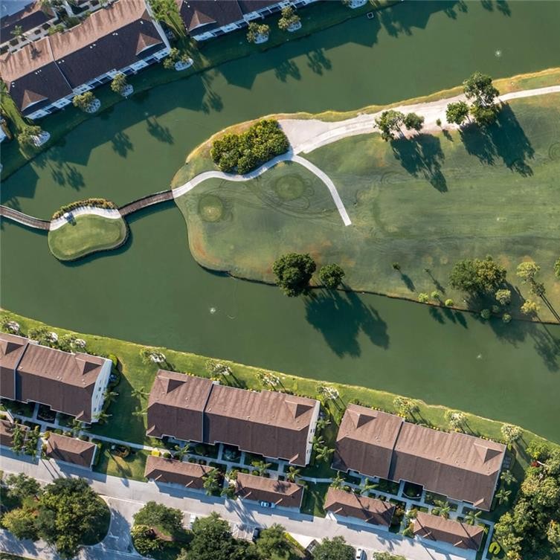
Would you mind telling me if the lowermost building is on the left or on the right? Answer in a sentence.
It is on the right.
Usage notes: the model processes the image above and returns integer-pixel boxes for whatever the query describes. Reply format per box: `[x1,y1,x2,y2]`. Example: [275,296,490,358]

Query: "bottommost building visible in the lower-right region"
[412,511,486,552]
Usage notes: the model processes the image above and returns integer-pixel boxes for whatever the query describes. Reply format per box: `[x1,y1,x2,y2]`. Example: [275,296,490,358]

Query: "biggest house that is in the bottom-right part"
[329,404,507,515]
